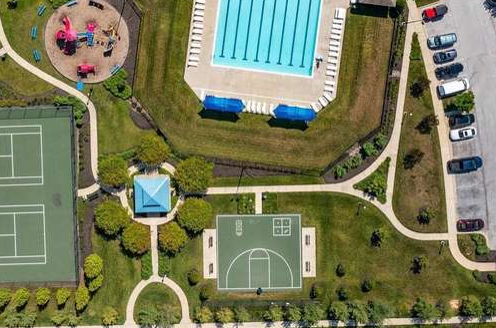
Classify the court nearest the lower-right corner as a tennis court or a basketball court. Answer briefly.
basketball court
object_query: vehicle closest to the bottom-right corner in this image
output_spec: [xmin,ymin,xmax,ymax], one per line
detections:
[455,219,484,232]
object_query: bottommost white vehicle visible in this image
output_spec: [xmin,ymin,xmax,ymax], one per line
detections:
[448,127,476,141]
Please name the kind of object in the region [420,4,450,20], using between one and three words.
car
